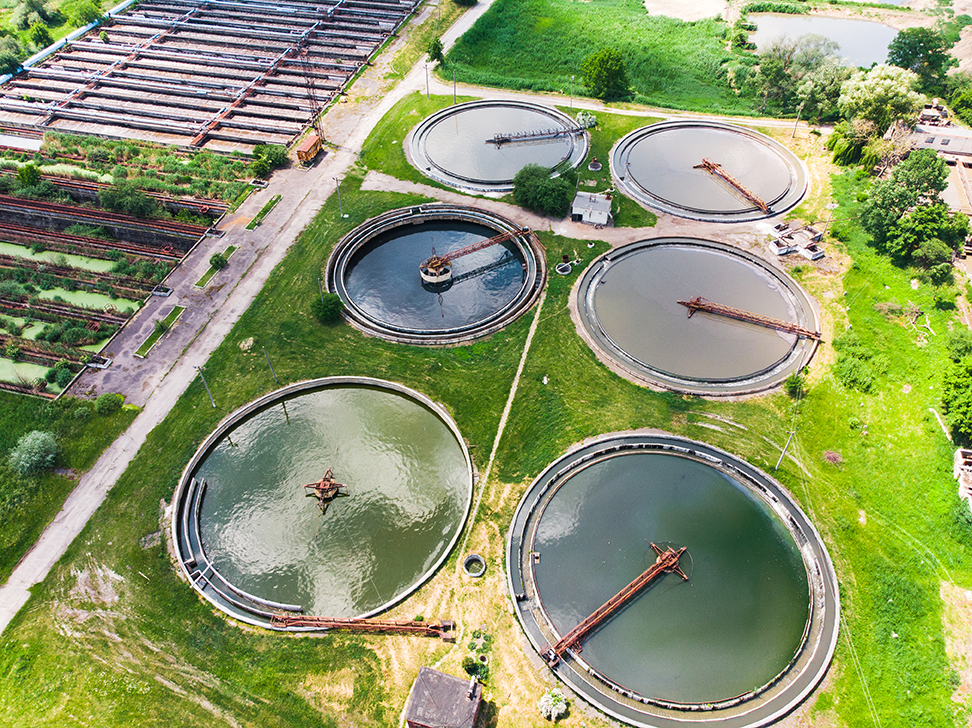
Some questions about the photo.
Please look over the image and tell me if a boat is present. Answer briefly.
No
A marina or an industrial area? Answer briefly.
industrial area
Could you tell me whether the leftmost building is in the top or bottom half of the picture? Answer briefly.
bottom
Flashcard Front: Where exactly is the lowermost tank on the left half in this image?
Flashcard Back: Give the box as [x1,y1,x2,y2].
[173,378,473,631]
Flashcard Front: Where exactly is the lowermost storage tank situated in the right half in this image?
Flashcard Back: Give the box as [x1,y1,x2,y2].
[508,434,838,728]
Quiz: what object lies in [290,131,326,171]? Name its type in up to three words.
trailer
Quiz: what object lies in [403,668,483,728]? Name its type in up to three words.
building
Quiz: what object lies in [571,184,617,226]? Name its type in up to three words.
building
